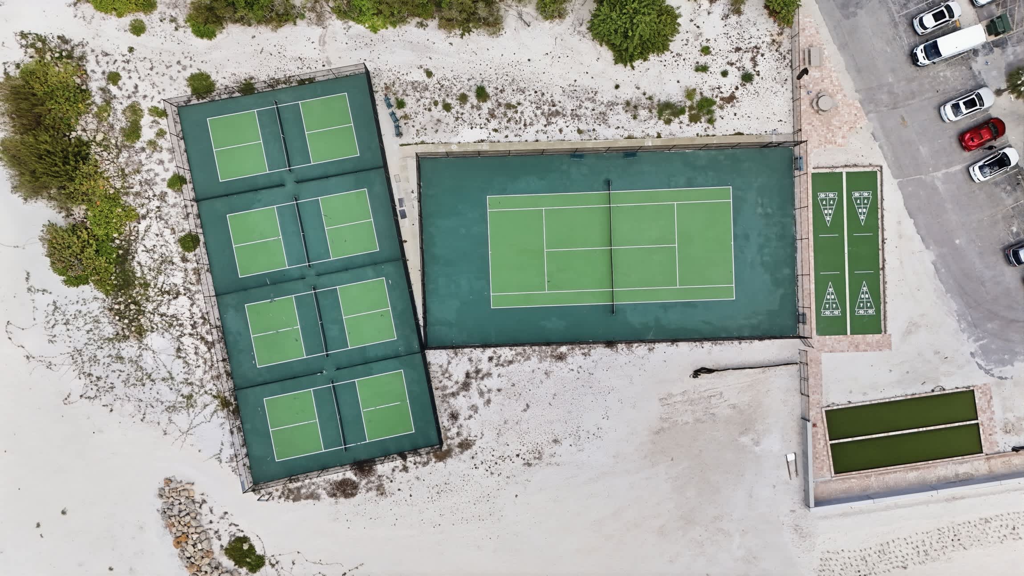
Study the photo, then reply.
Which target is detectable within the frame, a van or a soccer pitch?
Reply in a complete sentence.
I can see a van in this picture.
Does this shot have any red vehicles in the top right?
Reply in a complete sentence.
Yes, a red vehicle is visible in the top right.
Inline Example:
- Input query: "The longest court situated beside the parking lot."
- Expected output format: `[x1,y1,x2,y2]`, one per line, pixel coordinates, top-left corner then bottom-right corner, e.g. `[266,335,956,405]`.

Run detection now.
[419,147,799,346]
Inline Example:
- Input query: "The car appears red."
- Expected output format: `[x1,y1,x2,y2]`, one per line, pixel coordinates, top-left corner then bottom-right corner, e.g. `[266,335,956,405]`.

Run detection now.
[958,118,1006,151]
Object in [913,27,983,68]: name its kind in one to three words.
van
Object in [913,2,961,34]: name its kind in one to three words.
car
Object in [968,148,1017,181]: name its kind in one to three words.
car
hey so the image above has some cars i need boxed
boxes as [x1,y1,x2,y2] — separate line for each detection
[958,118,1006,151]
[968,148,1017,181]
[1006,244,1024,266]
[970,0,990,6]
[913,2,961,34]
[940,91,991,123]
